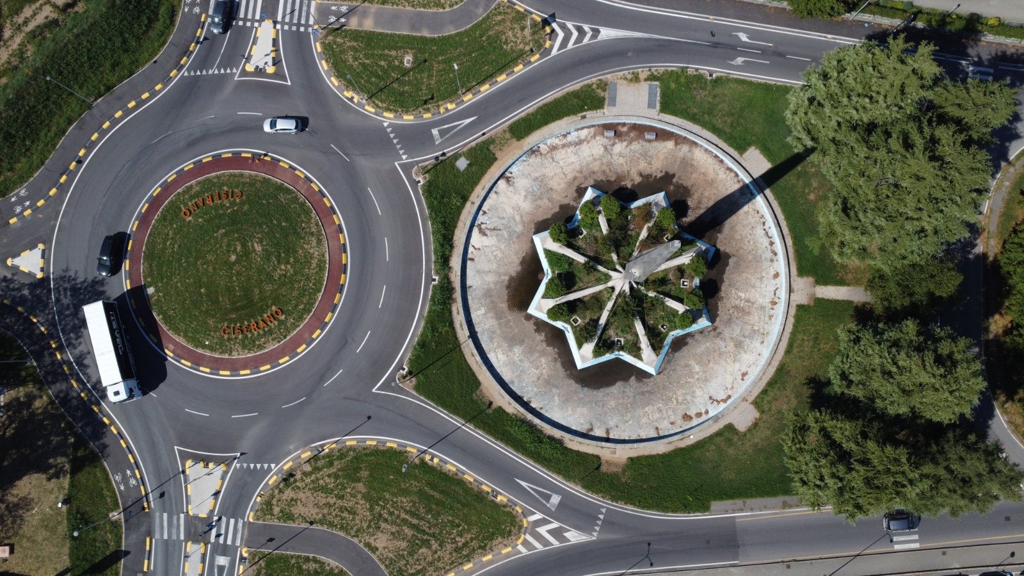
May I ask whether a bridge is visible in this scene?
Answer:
No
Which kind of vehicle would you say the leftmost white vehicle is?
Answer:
truck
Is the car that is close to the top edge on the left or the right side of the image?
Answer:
left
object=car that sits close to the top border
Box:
[210,0,234,34]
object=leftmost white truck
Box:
[82,300,146,409]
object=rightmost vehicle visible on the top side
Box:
[264,117,301,136]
